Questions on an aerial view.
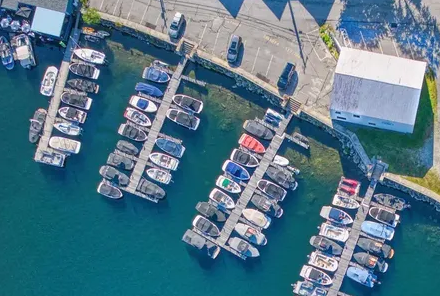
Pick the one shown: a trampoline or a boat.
boat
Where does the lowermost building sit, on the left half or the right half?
right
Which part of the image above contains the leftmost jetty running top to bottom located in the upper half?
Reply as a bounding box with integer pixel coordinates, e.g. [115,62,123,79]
[36,9,97,159]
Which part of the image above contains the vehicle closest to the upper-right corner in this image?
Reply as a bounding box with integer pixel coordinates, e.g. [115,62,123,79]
[277,61,296,92]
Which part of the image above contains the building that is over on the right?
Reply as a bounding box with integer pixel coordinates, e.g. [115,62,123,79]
[331,47,427,131]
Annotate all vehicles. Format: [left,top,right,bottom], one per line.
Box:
[227,34,242,65]
[169,11,185,41]
[277,61,296,92]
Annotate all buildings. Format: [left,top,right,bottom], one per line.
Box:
[331,47,427,131]
[0,0,83,44]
